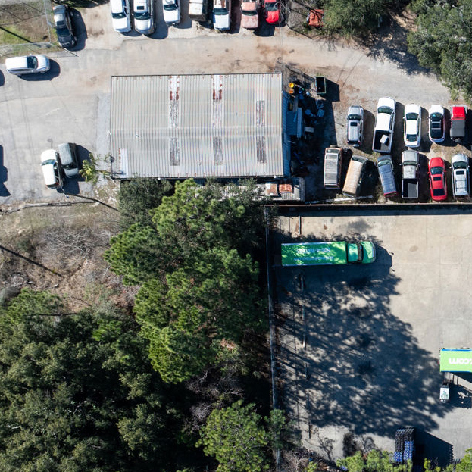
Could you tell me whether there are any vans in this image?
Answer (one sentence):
Yes, this view includes a van.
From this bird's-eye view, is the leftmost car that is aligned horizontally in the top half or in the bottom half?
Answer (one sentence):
It is in the top half that the leftmost car that is aligned horizontally appears.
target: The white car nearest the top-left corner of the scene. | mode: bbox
[7,54,52,75]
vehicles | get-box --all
[53,5,78,50]
[109,0,132,34]
[238,0,261,31]
[448,106,467,144]
[341,155,369,198]
[370,97,395,155]
[309,11,337,28]
[56,142,84,180]
[439,373,451,406]
[435,347,472,374]
[344,106,364,148]
[374,155,399,199]
[448,154,470,199]
[7,54,52,75]
[399,150,420,200]
[261,0,282,26]
[37,149,66,192]
[186,0,209,25]
[427,105,446,144]
[131,0,155,37]
[427,157,447,202]
[159,0,183,27]
[402,104,422,149]
[209,0,232,32]
[321,146,343,192]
